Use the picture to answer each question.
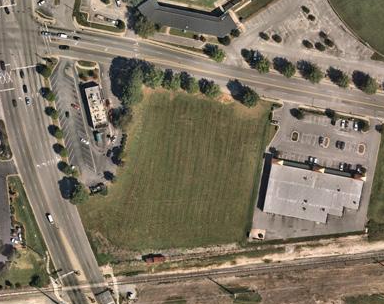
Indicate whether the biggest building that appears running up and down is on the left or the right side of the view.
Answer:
left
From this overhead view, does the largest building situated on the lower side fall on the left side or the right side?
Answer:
right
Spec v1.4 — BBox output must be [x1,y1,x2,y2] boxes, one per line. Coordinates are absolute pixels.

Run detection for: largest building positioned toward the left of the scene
[85,85,107,129]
